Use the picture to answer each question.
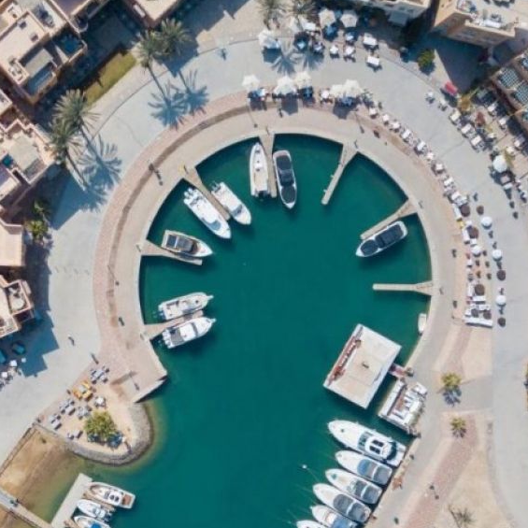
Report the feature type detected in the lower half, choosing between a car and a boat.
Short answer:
boat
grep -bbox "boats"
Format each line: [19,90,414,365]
[356,222,409,255]
[335,451,397,488]
[248,142,268,199]
[75,515,113,528]
[89,483,134,508]
[161,317,218,348]
[273,148,295,209]
[327,419,411,470]
[310,505,358,528]
[210,183,249,224]
[78,500,112,520]
[325,470,383,507]
[161,230,214,257]
[312,484,376,527]
[183,187,230,238]
[155,293,216,322]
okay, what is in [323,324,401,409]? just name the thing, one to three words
building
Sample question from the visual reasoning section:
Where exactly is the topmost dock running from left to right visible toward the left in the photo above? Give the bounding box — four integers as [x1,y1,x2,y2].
[141,240,203,265]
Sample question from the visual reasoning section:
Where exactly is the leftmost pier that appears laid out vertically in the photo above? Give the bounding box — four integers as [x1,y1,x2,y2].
[259,134,276,198]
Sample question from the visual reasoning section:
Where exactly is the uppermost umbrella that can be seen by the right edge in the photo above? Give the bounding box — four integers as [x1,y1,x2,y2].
[492,157,507,171]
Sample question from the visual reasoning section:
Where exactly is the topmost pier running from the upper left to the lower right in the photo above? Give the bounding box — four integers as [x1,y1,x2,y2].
[184,168,230,220]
